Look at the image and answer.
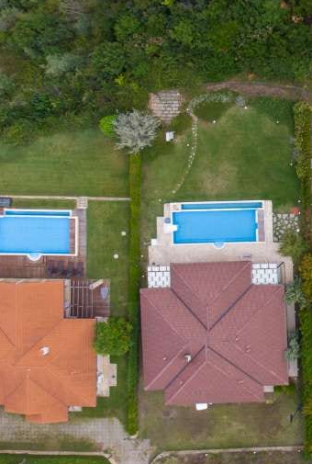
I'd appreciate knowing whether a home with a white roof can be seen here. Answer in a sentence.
No, no home with a white roof can be seen from above.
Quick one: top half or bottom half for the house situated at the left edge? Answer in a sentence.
You can find the house situated at the left edge in the bottom half.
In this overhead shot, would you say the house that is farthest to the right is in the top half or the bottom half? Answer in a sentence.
The house that is farthest to the right is in the bottom half of the image.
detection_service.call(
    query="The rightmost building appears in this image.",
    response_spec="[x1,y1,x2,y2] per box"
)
[140,260,290,412]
